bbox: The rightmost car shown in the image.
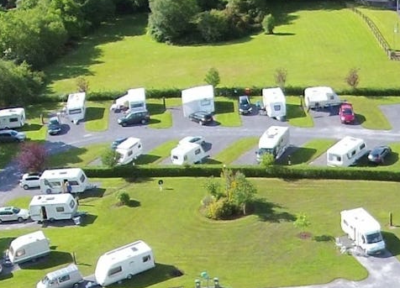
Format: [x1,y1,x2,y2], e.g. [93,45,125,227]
[367,148,393,164]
